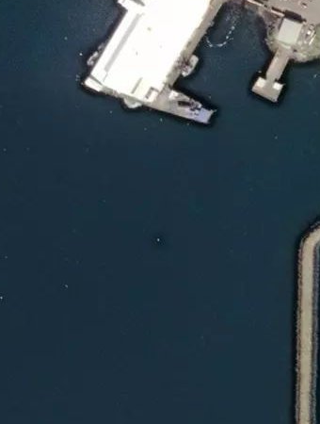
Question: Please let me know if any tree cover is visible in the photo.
No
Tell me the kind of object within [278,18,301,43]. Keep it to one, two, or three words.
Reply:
house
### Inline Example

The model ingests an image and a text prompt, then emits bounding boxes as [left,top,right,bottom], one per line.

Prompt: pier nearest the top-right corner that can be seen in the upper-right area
[266,46,289,81]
